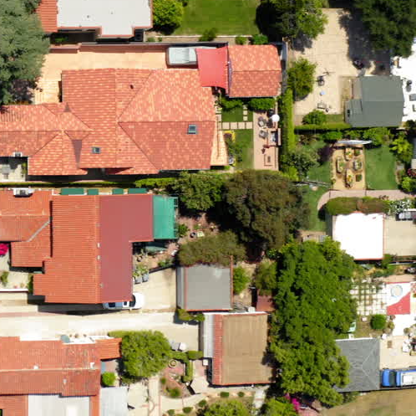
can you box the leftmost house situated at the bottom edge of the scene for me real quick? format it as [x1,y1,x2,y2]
[0,333,128,416]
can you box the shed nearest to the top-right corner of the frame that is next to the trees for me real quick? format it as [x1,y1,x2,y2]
[342,76,407,126]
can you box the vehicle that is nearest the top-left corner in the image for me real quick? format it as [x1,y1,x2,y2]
[161,45,208,67]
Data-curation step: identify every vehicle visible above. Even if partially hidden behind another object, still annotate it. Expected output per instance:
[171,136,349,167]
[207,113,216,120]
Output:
[97,292,144,313]
[380,367,416,389]
[161,45,208,67]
